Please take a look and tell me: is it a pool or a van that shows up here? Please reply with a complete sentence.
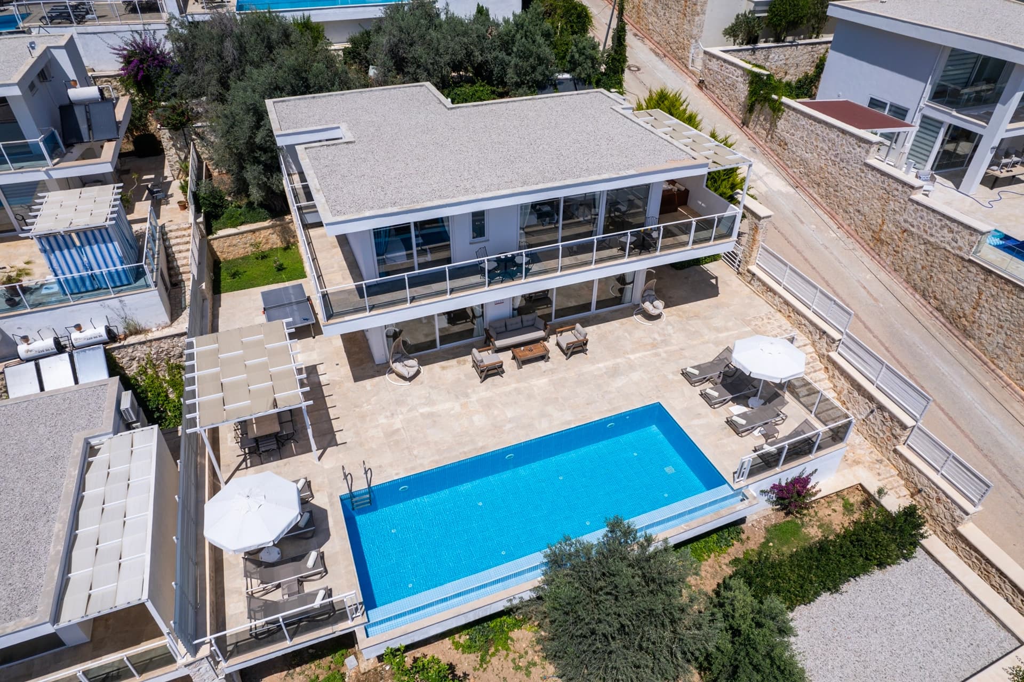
Visible in the photo is a pool.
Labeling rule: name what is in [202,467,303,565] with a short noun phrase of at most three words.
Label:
umbrella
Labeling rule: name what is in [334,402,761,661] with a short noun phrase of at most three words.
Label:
swimming pool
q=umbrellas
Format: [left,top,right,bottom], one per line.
[202,467,303,565]
[733,334,809,407]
